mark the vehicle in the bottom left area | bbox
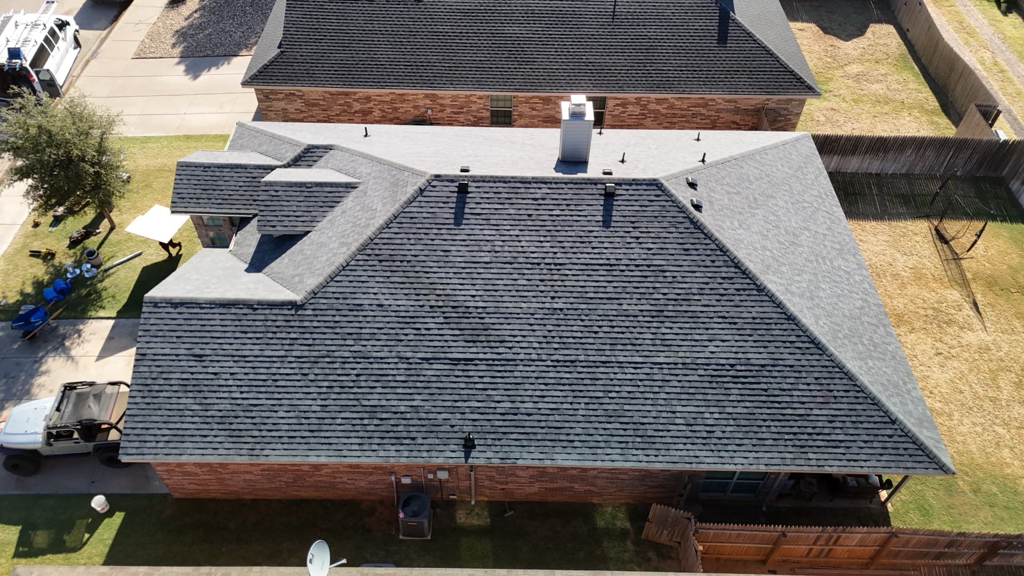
[0,386,142,480]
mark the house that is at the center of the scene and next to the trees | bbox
[118,98,958,512]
